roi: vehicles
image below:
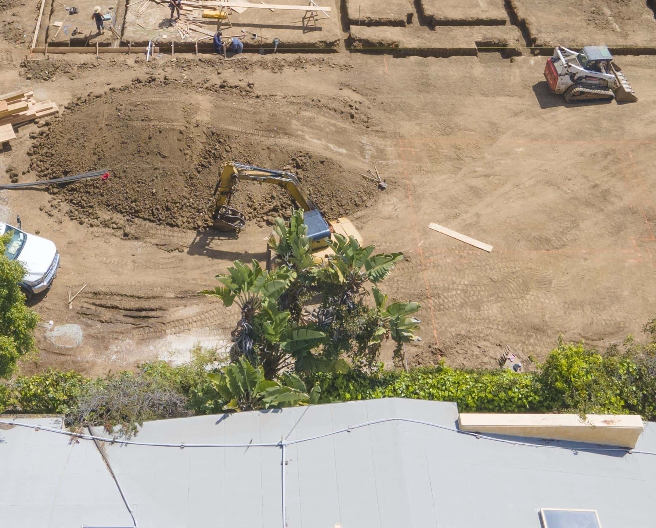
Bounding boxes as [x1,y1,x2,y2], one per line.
[543,42,645,110]
[205,157,371,288]
[0,214,62,299]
